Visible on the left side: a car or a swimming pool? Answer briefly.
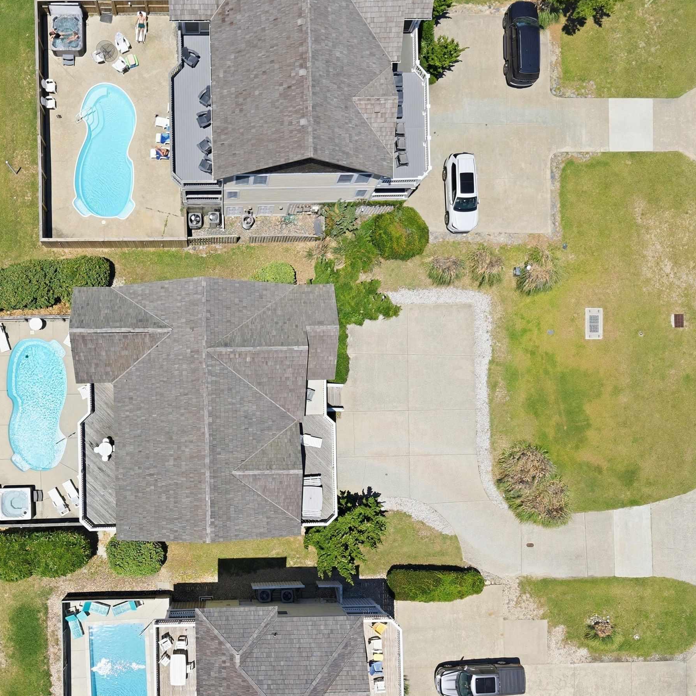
swimming pool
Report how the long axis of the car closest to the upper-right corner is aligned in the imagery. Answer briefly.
vertically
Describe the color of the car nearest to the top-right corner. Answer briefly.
black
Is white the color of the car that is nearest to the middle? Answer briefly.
Yes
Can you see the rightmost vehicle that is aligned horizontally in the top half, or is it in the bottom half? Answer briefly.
bottom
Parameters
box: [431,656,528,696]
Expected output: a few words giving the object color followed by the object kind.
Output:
gray vehicle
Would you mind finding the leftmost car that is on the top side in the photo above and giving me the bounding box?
[437,153,478,234]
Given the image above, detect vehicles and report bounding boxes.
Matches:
[431,656,528,696]
[496,4,539,93]
[437,153,478,234]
